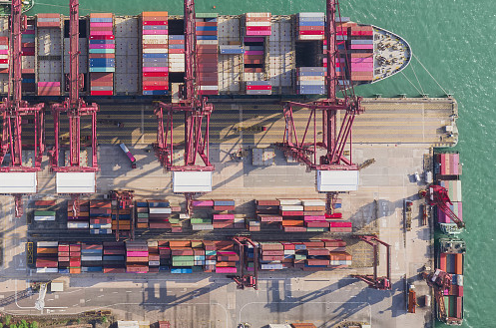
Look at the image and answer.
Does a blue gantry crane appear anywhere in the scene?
No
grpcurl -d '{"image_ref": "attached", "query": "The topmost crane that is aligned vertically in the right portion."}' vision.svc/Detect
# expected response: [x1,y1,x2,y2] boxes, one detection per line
[278,0,367,210]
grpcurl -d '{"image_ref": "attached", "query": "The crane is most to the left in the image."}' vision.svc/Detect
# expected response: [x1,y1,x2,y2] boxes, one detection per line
[0,0,52,211]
